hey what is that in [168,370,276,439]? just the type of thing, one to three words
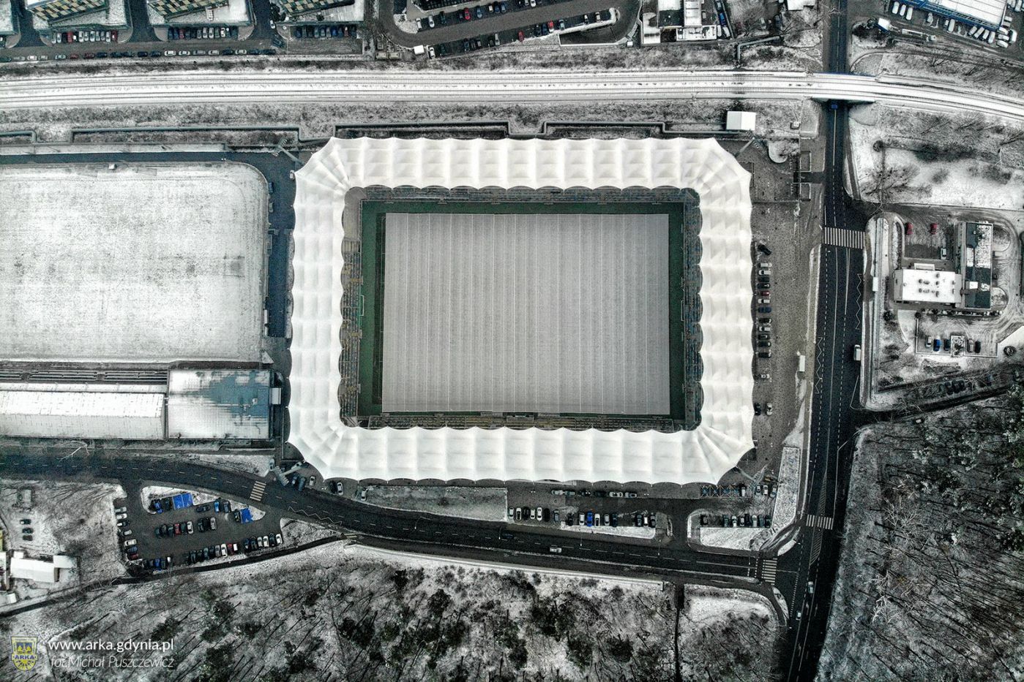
building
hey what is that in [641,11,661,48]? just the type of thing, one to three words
building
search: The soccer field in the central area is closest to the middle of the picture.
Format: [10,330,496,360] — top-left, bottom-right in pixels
[359,202,684,418]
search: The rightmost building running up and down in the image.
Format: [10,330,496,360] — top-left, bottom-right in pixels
[954,223,994,310]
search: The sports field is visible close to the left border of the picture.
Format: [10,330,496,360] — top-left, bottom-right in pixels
[0,162,272,362]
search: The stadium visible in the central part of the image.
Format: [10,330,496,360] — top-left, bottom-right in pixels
[286,136,756,486]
